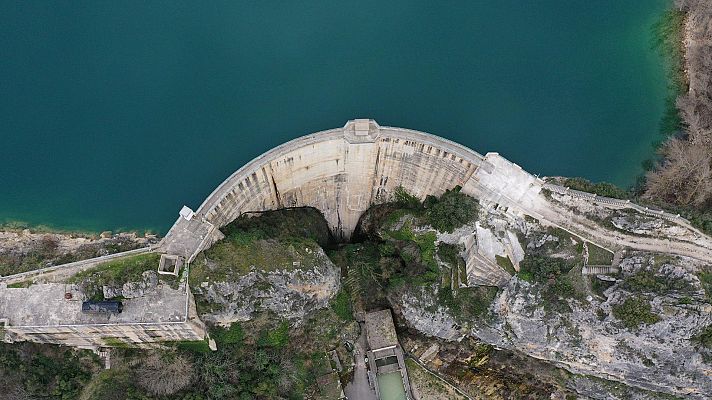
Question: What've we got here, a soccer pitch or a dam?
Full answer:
Looking from above, you can make out a dam.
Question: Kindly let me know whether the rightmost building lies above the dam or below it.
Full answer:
The rightmost building is found below the dam in the photo.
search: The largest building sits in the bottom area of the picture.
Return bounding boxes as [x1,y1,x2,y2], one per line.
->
[364,309,398,353]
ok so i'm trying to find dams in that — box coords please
[192,117,484,242]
